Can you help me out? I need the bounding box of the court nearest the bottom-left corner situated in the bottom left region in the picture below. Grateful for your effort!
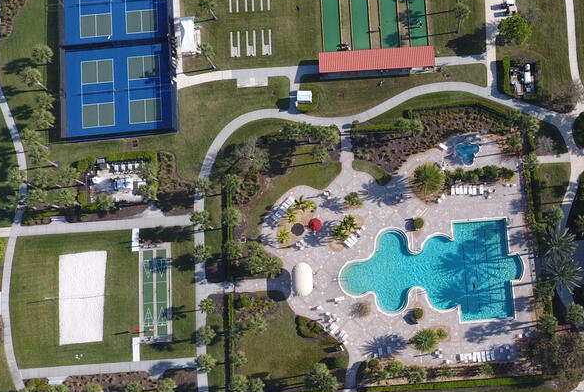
[49,251,109,345]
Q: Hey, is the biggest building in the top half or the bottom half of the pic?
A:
top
